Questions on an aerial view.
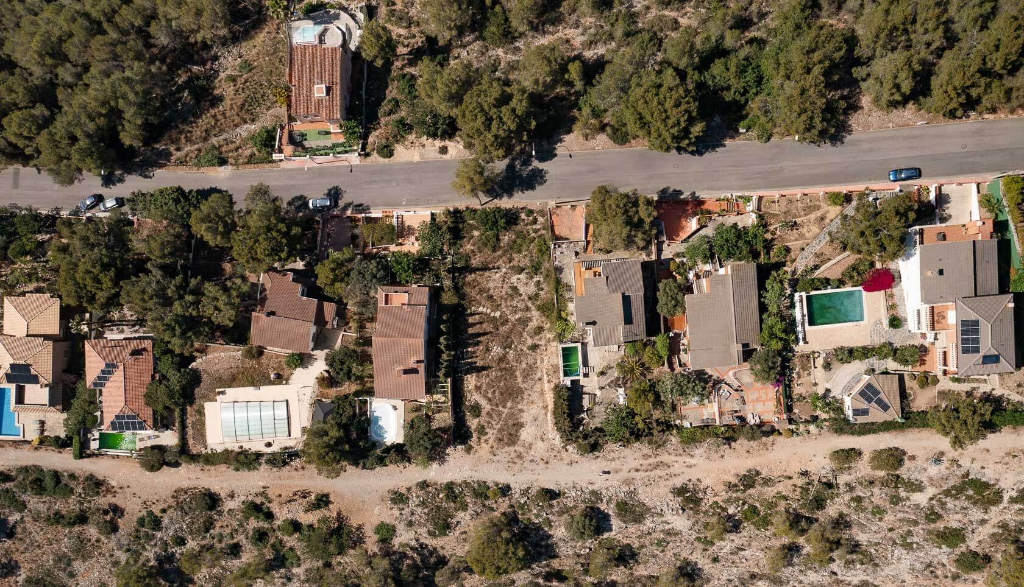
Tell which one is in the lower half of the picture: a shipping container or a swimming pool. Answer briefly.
swimming pool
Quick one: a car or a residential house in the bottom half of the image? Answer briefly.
residential house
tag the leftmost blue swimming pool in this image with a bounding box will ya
[0,386,23,437]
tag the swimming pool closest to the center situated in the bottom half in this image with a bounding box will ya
[559,342,582,381]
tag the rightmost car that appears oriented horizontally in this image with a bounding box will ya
[887,168,919,183]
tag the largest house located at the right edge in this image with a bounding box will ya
[892,220,1017,377]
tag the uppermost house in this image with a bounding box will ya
[292,23,349,129]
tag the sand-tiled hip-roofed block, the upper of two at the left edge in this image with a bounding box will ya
[3,293,69,335]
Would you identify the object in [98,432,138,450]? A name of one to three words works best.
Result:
swimming pool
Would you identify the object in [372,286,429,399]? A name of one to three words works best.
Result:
house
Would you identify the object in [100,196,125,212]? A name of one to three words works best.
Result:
car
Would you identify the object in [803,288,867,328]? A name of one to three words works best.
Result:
swimming pool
